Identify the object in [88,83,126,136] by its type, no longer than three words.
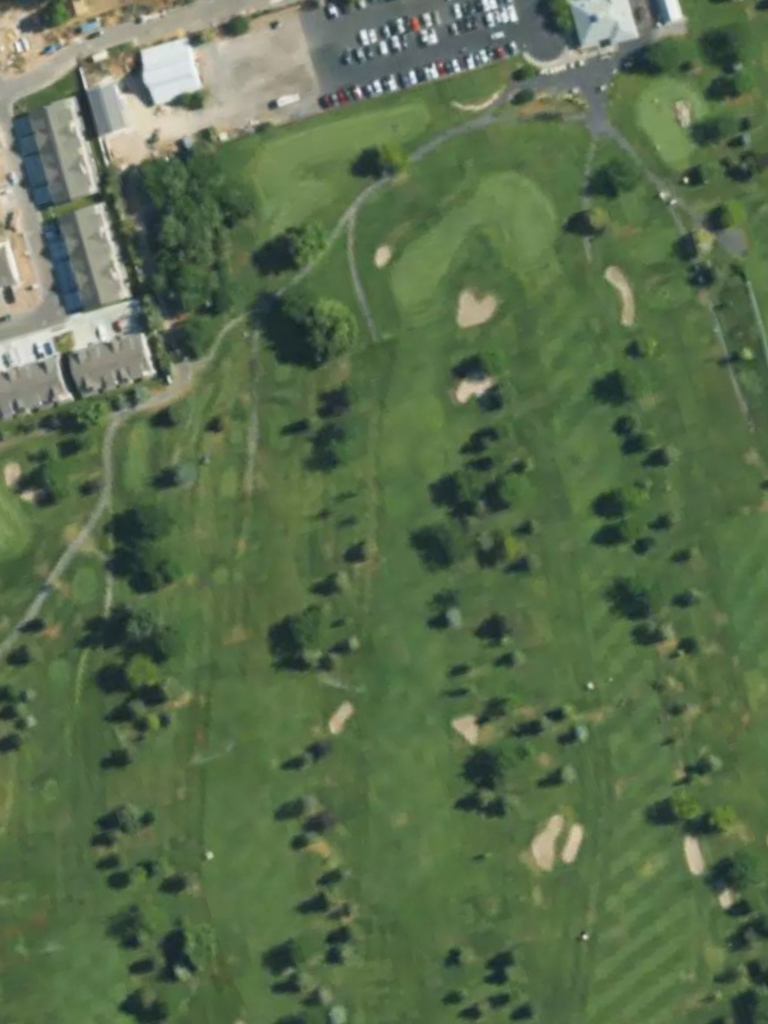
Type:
shed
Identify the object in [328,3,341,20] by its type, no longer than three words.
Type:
vehicle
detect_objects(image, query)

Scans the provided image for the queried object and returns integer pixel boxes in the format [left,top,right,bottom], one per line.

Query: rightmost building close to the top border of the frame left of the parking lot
[140,38,203,105]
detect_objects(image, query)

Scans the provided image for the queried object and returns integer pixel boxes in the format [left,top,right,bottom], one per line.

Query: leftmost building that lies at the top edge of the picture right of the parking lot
[573,0,641,54]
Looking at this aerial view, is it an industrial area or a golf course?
golf course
